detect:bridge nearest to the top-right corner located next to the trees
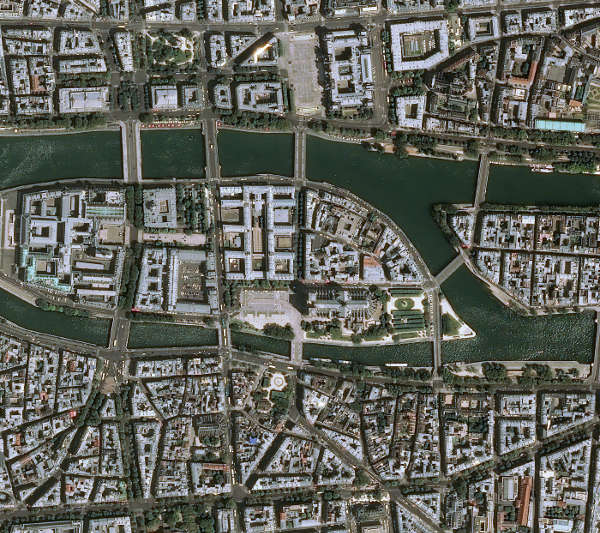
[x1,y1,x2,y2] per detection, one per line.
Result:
[473,151,491,211]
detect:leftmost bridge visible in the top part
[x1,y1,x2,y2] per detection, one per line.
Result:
[122,120,144,180]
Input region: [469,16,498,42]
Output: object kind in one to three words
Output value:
building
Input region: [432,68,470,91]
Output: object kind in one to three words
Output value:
building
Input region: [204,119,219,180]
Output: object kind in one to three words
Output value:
bridge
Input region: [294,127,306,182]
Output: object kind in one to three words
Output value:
bridge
